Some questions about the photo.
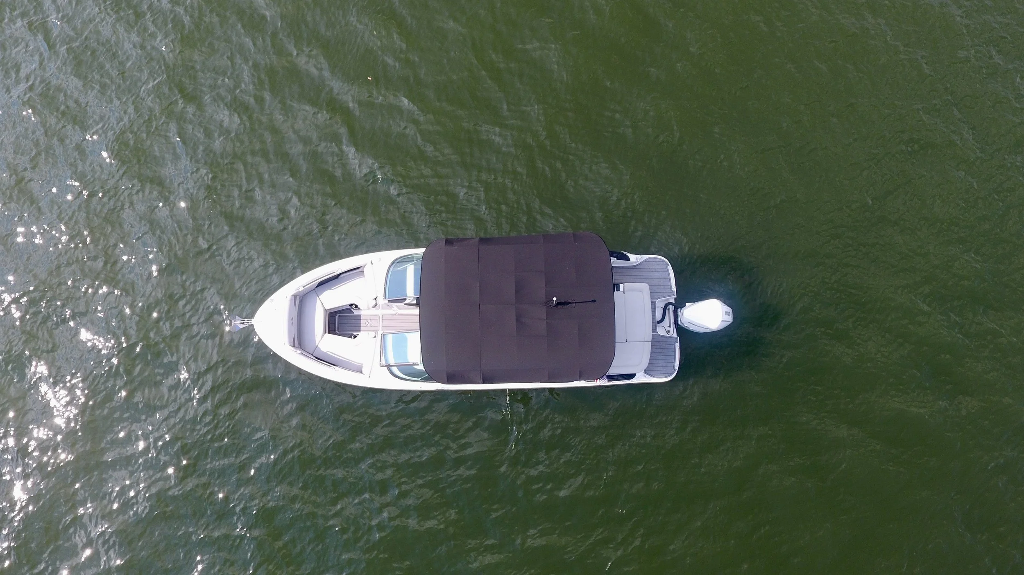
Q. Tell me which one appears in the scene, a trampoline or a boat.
boat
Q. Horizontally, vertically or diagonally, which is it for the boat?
horizontally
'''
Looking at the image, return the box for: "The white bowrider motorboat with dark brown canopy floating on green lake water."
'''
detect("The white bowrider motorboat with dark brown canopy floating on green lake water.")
[244,231,734,391]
